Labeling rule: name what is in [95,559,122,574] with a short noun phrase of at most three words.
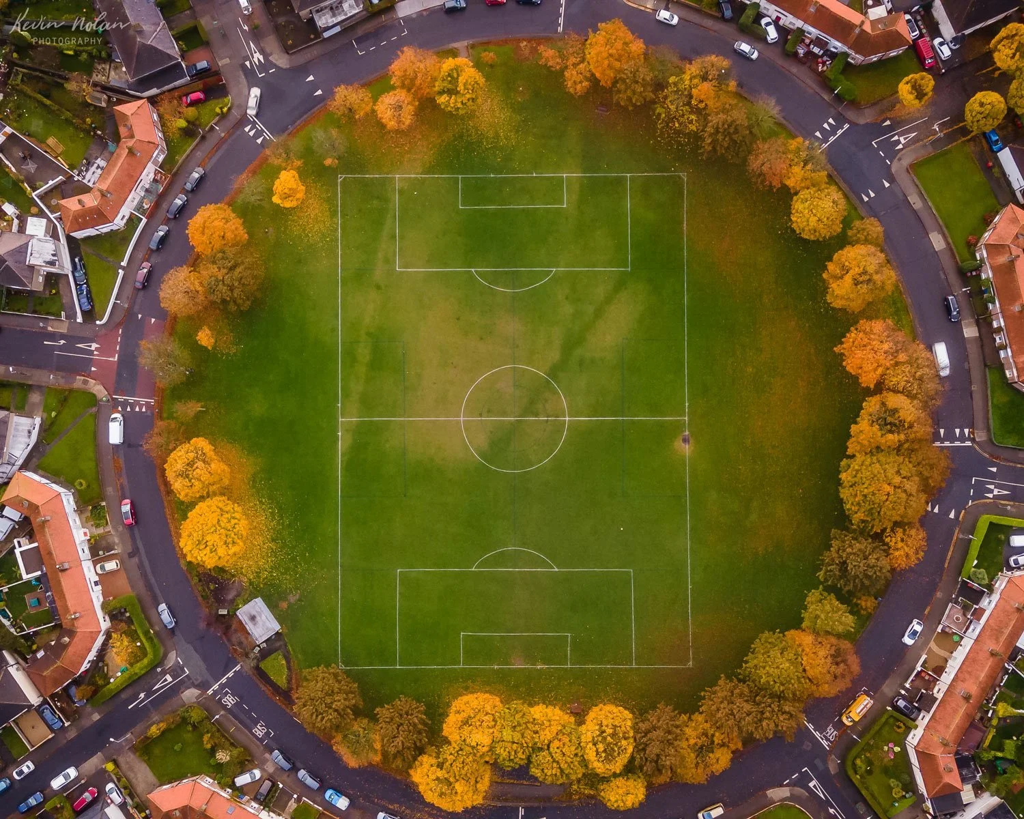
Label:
car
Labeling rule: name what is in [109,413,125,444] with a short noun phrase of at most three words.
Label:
vehicle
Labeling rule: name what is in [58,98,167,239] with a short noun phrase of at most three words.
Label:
house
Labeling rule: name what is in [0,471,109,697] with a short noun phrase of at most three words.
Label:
house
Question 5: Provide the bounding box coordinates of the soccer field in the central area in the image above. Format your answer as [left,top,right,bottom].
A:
[338,172,692,668]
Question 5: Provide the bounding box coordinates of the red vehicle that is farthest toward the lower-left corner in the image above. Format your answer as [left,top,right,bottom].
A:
[73,785,100,813]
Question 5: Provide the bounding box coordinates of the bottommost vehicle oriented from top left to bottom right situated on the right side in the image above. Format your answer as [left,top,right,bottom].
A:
[892,695,922,722]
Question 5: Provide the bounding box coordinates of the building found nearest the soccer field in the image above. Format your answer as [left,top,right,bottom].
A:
[236,596,284,644]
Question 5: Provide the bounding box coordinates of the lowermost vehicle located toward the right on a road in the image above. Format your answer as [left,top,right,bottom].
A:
[694,799,726,819]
